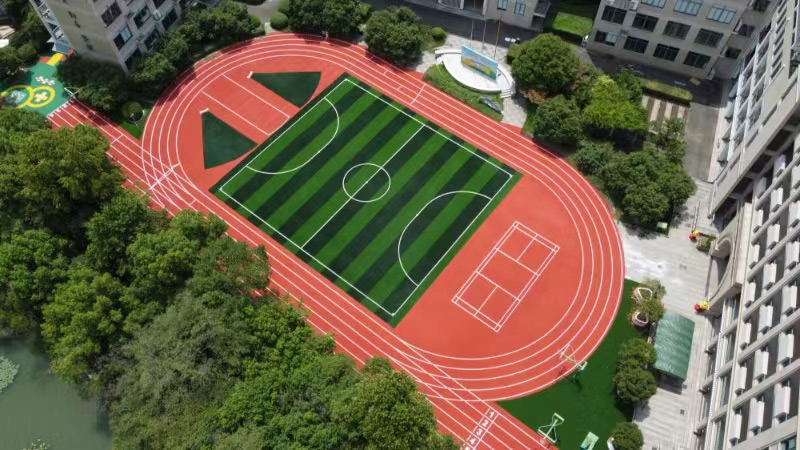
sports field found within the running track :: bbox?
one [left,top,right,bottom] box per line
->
[209,73,522,327]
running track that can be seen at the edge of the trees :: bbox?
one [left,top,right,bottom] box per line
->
[46,32,624,450]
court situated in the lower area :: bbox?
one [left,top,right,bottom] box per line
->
[452,220,559,332]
